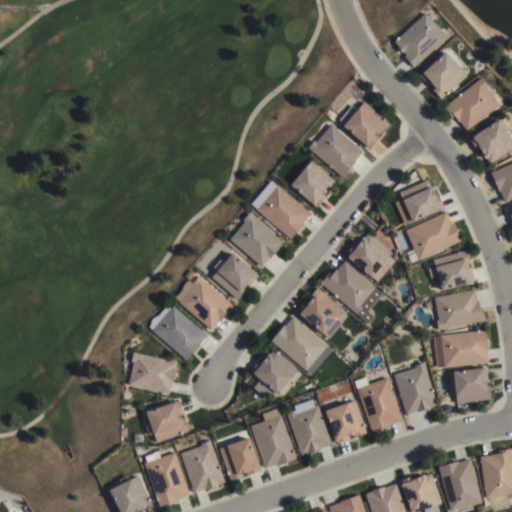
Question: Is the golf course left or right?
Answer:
left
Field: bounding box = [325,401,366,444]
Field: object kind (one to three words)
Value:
house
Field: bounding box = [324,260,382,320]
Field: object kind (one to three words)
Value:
house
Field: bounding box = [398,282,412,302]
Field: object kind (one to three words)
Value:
swimming pool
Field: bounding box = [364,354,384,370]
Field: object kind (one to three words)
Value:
swimming pool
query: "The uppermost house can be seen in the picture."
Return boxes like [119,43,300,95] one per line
[394,14,454,67]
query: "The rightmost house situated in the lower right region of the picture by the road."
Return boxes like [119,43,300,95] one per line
[478,450,512,512]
